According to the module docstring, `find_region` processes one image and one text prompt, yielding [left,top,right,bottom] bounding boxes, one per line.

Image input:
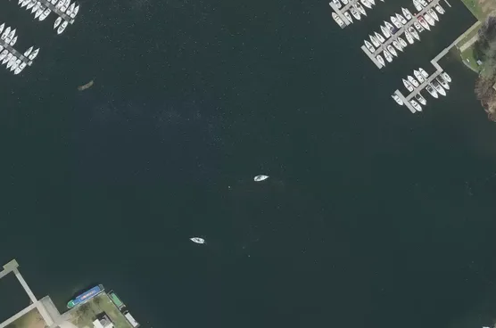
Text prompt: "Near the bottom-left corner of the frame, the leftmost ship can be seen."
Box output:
[67,285,105,306]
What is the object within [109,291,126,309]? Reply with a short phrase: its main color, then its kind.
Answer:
green ship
